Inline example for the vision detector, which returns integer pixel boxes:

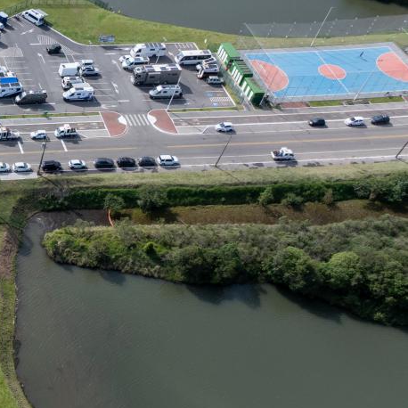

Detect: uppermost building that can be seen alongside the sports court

[216,40,243,67]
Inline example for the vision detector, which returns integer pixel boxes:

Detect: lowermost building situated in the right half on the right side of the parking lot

[240,76,269,106]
